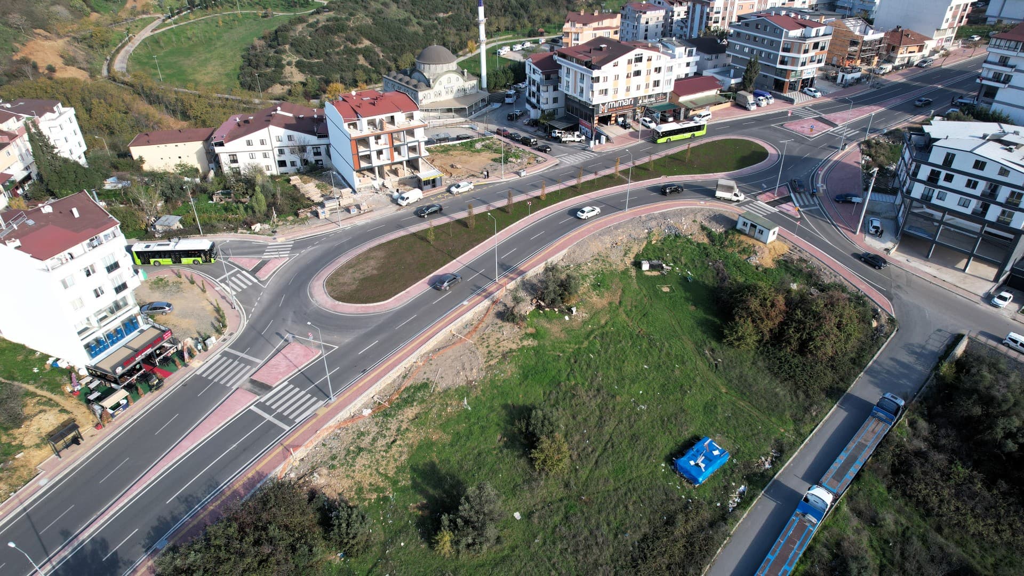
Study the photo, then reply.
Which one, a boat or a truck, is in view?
truck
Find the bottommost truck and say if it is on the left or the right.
right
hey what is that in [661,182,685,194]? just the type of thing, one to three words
vehicle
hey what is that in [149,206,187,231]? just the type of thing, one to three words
shed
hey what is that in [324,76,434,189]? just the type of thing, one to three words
building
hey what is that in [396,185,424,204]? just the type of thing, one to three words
vehicle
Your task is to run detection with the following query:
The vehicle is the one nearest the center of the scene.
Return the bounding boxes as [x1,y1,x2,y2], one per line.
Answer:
[434,271,463,290]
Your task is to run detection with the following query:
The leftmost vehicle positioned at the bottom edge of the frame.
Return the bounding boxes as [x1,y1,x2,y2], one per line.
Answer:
[740,473,843,576]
